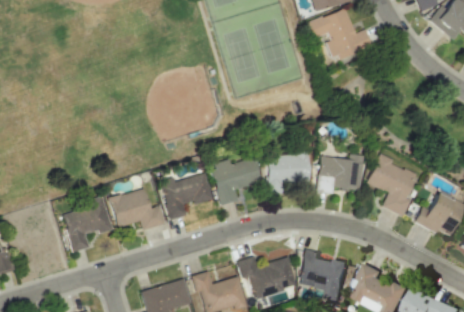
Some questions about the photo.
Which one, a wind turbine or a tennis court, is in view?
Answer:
tennis court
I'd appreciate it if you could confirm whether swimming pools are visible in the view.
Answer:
Yes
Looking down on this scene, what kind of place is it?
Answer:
residential area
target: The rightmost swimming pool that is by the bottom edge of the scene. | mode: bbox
[299,284,326,298]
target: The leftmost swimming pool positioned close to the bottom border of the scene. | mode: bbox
[261,284,295,308]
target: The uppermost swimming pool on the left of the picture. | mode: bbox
[168,164,203,180]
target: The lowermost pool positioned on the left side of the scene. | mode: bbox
[112,175,142,195]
